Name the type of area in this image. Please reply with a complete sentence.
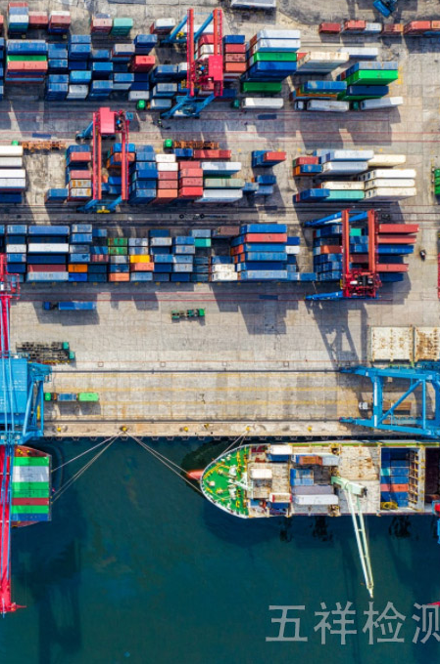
What you see here is a port.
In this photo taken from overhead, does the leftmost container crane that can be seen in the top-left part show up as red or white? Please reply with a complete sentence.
From above, the leftmost container crane that can be seen in the top-left part appears red.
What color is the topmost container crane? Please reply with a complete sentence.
The topmost container crane looks red in the image.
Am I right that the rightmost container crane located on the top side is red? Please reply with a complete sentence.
Yes, the rightmost container crane located on the top side appears red.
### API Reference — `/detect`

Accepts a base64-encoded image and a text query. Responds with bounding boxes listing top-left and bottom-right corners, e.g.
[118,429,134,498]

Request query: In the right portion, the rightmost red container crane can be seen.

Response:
[304,209,379,299]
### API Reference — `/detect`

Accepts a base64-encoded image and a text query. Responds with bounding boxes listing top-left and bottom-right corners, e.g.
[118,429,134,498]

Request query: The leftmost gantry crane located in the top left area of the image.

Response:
[78,103,132,208]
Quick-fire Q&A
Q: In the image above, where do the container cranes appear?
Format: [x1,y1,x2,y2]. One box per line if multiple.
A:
[304,209,379,299]
[163,7,227,115]
[332,350,440,447]
[78,103,132,208]
[0,254,48,622]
